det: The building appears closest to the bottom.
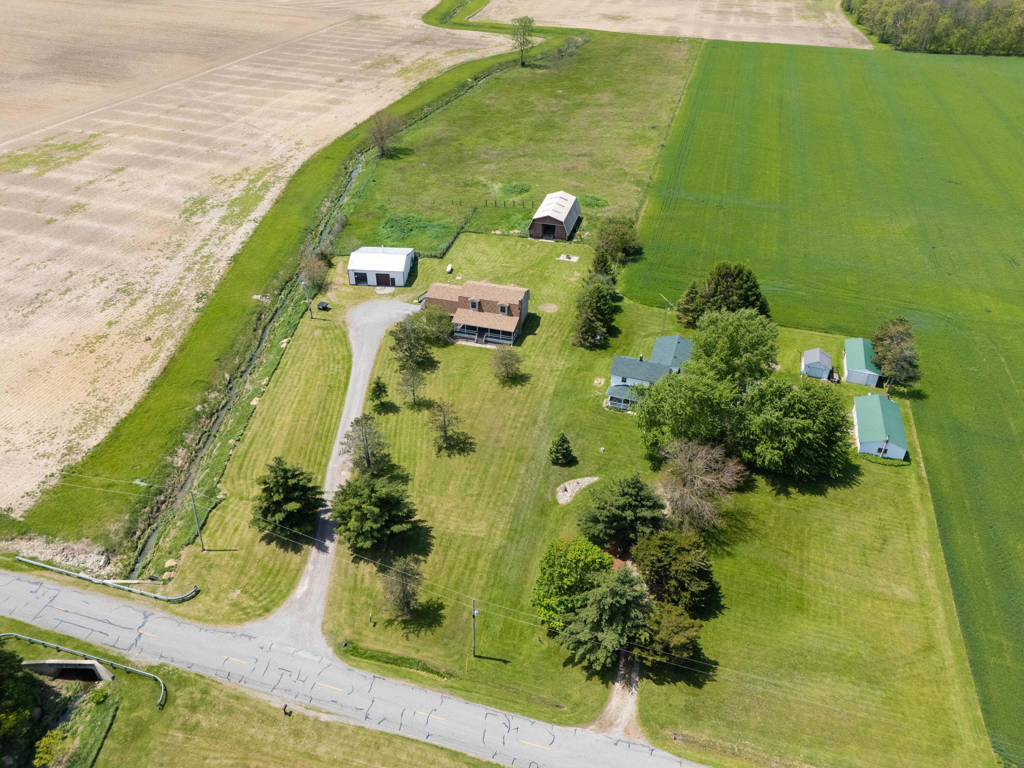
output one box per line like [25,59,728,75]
[854,395,909,459]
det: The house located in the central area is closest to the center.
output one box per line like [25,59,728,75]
[418,276,529,344]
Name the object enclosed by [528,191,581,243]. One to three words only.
barn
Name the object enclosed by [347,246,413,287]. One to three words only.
barn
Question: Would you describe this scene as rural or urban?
rural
